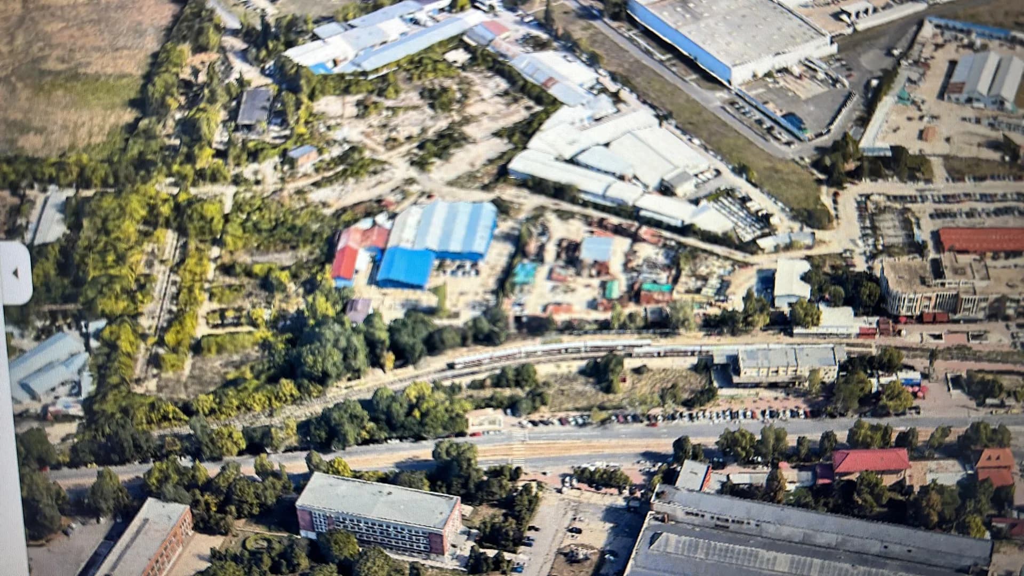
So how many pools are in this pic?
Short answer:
0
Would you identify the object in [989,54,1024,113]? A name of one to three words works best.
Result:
building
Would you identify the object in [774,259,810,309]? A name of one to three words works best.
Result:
house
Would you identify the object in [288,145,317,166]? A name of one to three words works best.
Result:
shed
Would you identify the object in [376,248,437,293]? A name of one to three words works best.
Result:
shed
